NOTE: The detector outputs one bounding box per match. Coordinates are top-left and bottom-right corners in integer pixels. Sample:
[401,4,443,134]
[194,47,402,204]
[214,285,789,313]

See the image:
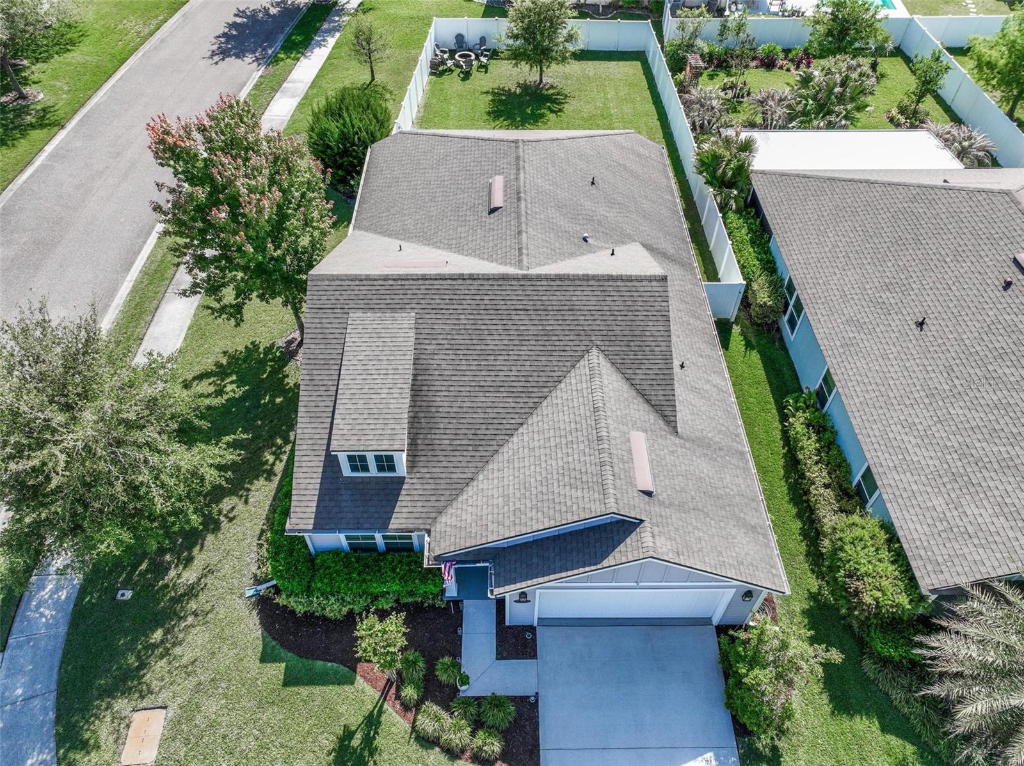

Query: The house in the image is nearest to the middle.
[285,131,795,627]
